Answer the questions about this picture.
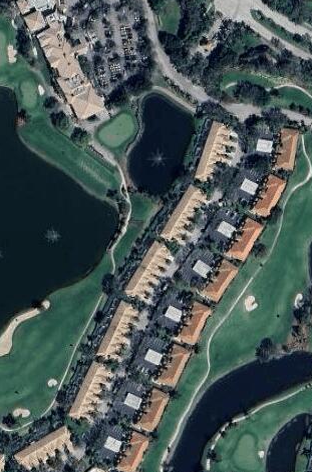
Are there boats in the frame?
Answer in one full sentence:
No, no boat is visible in the scene.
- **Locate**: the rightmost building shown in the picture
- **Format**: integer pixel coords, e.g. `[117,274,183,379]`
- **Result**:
[276,128,297,169]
